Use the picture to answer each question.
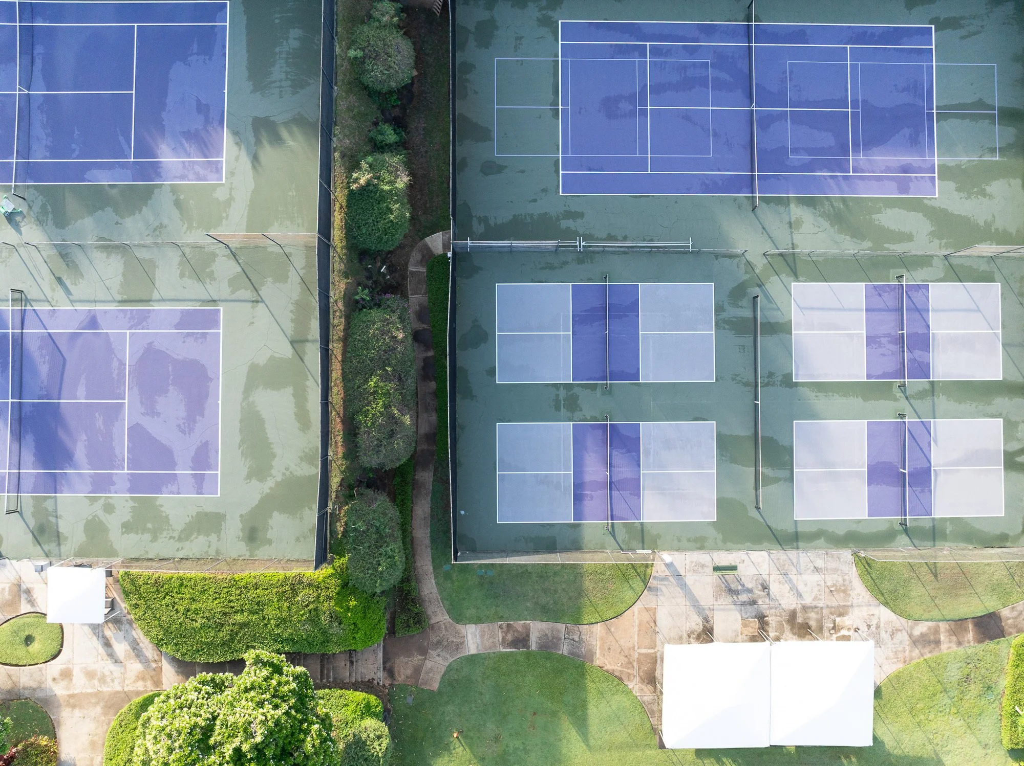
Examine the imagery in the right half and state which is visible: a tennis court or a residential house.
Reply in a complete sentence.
What appears in the right half is a tennis court.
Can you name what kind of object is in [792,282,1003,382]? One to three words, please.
sports court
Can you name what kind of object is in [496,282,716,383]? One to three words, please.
sports court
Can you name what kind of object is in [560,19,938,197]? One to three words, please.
tennis court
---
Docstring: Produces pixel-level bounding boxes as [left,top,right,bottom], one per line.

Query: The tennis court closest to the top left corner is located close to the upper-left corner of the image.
[0,0,228,184]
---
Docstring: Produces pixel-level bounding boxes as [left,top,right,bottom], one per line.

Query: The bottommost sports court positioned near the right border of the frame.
[794,419,1005,520]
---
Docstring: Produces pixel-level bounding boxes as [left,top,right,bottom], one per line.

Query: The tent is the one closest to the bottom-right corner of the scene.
[758,628,874,748]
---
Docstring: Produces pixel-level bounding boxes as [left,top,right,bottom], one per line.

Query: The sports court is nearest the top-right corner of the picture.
[788,61,999,159]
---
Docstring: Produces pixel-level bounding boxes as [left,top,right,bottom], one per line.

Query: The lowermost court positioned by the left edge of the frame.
[0,307,223,497]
